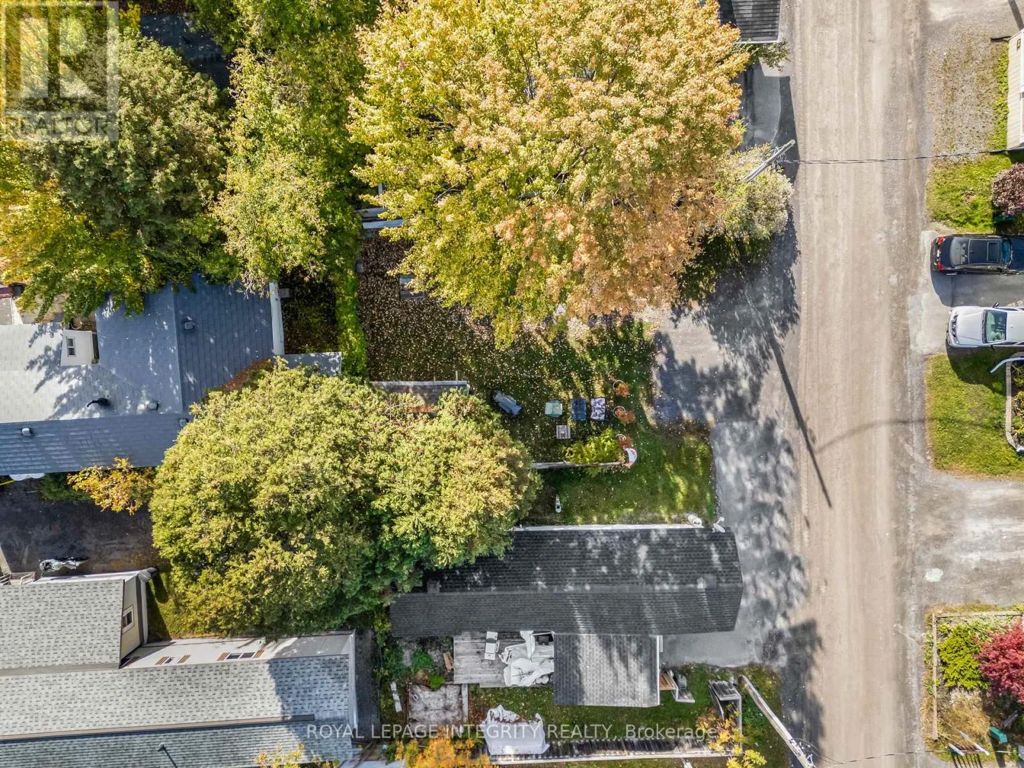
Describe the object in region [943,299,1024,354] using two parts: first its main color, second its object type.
white car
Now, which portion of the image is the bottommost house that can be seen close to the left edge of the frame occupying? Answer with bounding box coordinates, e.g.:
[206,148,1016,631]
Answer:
[0,578,364,768]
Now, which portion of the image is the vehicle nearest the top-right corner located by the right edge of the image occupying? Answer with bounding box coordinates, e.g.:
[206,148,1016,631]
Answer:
[929,228,1024,281]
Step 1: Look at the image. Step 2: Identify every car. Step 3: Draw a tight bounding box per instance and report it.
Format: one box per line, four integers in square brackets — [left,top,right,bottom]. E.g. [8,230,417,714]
[943,299,1024,354]
[929,228,1024,281]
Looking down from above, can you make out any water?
No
